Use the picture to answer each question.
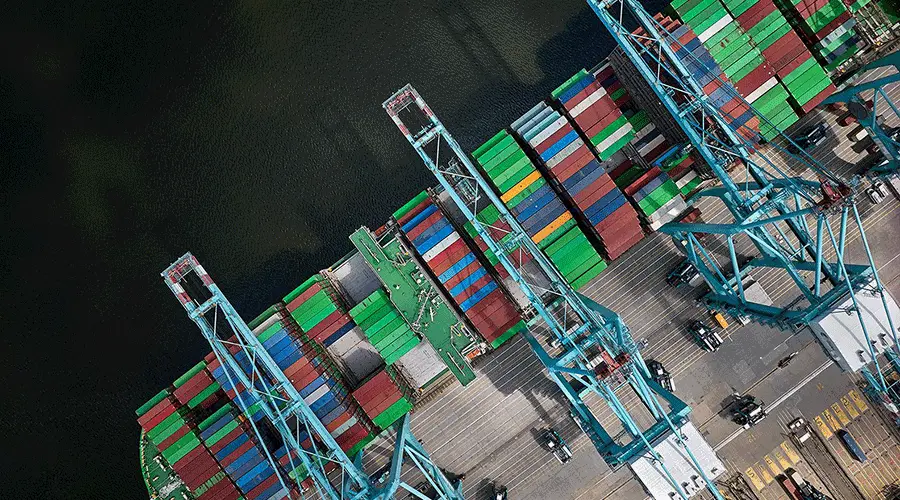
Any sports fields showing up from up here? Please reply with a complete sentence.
No, I can't see a single sports field in this photo.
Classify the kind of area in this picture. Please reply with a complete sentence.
It's a port.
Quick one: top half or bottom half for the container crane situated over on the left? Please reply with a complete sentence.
Seen from above, the container crane situated over on the left lies in the bottom half of the view.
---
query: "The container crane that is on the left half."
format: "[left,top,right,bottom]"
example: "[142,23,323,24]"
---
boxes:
[154,248,468,500]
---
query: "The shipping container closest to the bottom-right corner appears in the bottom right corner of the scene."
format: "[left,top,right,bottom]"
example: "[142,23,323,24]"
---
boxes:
[838,429,869,463]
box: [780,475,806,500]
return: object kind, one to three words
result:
shipping container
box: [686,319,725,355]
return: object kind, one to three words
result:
work vehicle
